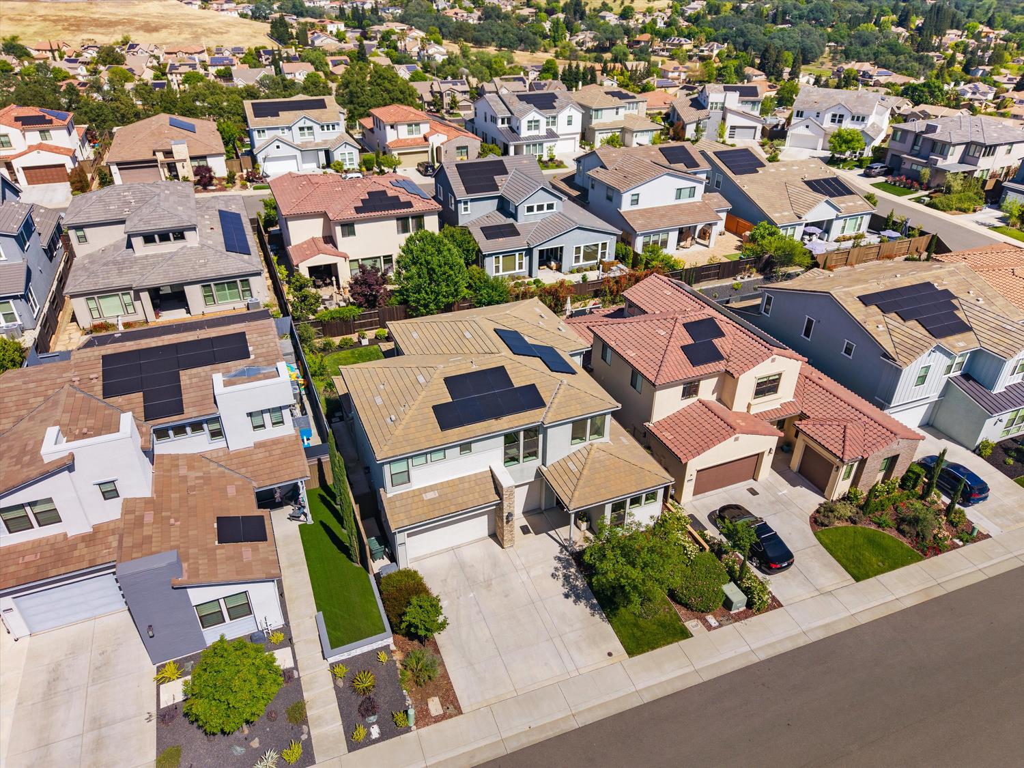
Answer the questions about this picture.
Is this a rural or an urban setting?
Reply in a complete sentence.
The land in this view is best described as urban.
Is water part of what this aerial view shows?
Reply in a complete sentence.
No, there's no water in this view.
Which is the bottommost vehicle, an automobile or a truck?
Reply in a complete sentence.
In the photo, the bottommost vehicle shows up as an automobile.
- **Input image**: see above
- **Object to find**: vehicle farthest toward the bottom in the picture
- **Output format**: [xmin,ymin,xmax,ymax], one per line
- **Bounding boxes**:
[721,502,800,561]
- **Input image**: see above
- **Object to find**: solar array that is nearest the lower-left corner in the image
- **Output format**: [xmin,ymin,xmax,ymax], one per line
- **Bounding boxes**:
[216,513,268,543]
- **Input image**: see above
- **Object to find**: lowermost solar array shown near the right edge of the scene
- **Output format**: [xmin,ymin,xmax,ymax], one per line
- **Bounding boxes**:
[858,281,975,338]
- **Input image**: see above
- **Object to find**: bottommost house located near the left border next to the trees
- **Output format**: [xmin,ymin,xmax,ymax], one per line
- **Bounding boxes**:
[0,301,315,664]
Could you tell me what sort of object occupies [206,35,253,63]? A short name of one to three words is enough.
house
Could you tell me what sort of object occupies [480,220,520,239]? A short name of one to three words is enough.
solar array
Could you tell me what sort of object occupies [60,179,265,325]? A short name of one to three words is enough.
house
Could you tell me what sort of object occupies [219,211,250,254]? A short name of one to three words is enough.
solar array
